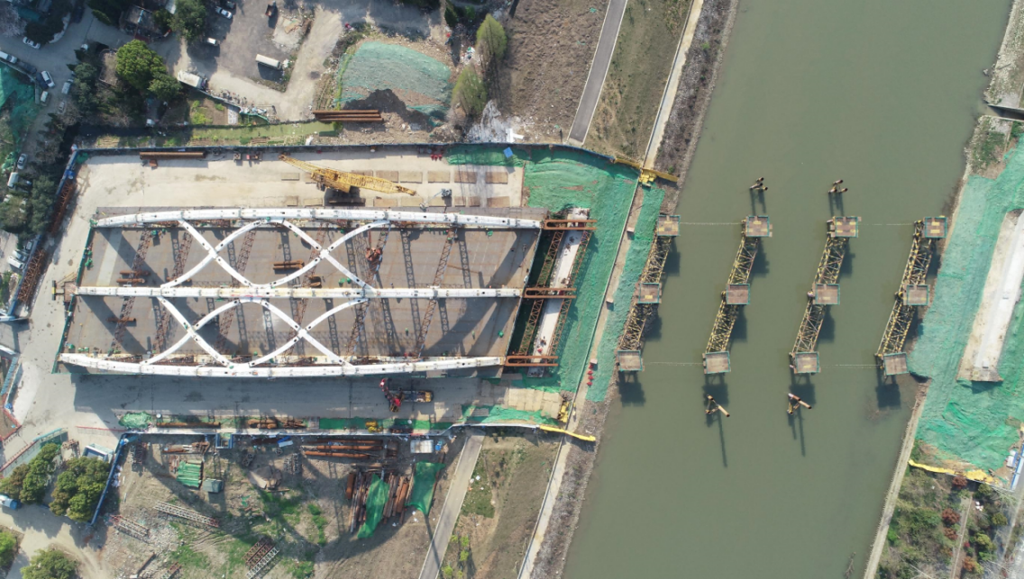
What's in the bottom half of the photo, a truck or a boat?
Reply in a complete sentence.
There is a truck in the bottom half of the photo.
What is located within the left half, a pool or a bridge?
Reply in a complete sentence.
You can see a bridge within the left half.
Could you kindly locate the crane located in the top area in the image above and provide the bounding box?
[277,154,415,197]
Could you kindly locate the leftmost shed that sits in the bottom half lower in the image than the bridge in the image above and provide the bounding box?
[81,442,114,463]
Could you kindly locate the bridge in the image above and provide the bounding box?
[50,208,553,376]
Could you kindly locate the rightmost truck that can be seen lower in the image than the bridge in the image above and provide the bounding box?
[380,377,430,416]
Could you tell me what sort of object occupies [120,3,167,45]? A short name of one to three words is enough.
house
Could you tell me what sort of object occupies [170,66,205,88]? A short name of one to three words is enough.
truck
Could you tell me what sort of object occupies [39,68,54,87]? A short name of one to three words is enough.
car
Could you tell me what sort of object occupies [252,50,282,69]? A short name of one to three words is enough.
vehicle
